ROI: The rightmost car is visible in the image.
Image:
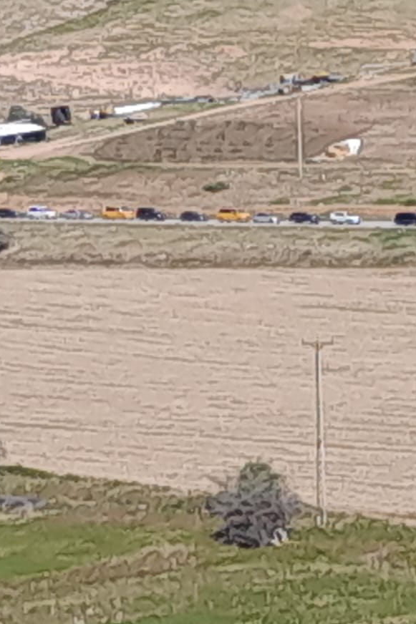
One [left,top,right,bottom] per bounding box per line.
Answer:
[394,214,416,226]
